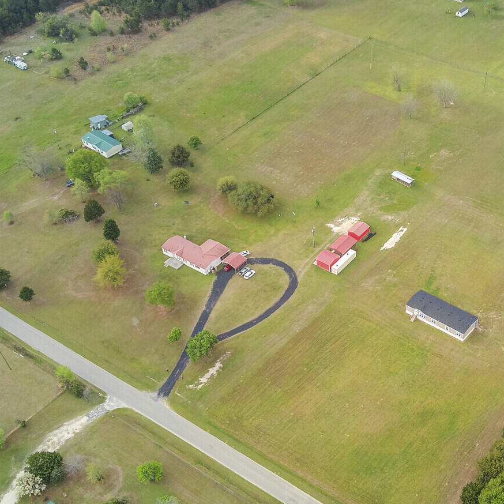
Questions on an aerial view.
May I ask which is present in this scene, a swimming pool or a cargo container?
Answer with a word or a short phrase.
cargo container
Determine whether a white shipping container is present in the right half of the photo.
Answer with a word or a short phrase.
Yes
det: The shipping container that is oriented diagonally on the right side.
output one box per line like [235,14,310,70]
[331,249,357,275]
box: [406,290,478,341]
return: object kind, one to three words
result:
house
